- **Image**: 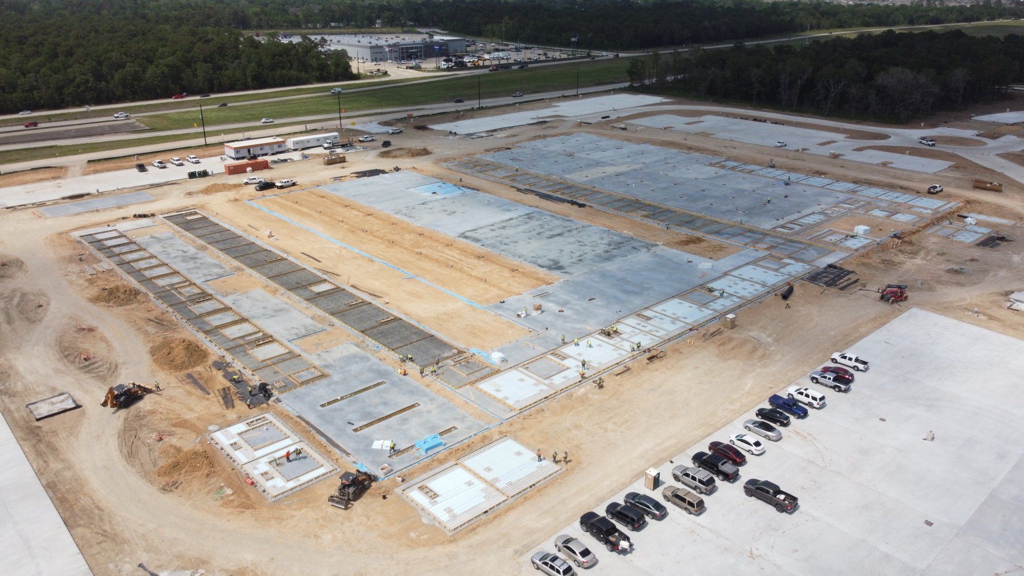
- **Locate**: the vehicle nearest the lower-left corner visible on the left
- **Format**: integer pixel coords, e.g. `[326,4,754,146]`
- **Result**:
[100,381,152,413]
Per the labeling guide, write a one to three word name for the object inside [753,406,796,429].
car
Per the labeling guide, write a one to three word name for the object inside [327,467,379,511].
work vehicle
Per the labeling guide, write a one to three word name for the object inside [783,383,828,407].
car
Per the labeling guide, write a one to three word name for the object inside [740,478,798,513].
truck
